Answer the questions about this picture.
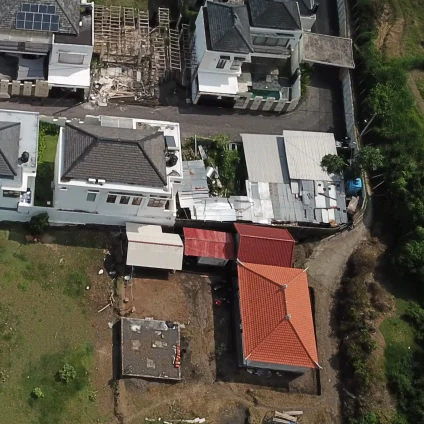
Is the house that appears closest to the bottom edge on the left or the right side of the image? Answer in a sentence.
It is on the right.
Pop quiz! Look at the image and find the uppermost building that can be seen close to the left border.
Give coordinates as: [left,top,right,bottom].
[0,0,96,103]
